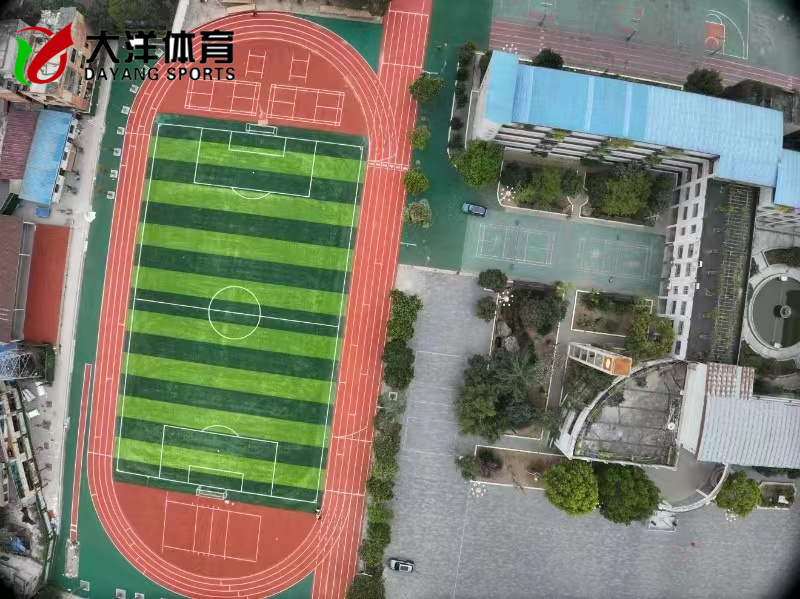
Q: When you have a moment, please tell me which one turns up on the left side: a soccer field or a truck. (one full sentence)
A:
You can see a soccer field on the left side.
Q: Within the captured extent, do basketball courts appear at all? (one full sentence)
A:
Yes, I can see a basketball court in this picture.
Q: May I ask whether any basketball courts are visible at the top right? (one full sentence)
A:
Yes, a basketball court is visible at the top right.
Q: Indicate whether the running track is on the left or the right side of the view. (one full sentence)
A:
The running track is on the left side of the image.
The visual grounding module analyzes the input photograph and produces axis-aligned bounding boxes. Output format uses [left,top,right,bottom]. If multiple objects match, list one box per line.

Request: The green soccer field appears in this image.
[114,112,366,513]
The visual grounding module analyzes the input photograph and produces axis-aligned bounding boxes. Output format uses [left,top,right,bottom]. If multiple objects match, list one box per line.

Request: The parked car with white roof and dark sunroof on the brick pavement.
[388,558,415,574]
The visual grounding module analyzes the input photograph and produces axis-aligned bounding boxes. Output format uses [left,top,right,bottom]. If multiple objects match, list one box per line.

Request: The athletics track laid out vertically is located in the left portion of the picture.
[87,0,433,599]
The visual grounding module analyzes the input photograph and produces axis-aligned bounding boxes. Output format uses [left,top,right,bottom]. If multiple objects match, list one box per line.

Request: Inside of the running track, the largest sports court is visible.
[161,495,262,562]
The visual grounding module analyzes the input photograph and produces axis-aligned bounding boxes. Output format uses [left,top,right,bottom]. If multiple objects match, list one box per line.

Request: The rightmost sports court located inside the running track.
[267,84,344,126]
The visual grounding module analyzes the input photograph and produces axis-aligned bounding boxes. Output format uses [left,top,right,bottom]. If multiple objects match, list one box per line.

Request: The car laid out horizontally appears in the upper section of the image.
[462,201,488,216]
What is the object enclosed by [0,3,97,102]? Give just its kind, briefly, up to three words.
building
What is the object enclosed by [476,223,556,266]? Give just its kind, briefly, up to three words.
sports court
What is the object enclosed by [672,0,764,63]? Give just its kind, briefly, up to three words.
basketball court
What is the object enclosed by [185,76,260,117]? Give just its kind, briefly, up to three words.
sports court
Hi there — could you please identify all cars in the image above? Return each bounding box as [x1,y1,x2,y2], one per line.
[388,558,415,574]
[462,201,488,216]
